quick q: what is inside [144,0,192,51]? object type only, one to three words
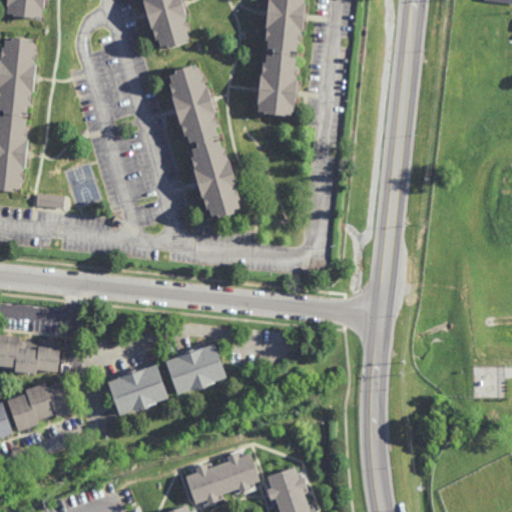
building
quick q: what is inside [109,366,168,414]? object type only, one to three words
house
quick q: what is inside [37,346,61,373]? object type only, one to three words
house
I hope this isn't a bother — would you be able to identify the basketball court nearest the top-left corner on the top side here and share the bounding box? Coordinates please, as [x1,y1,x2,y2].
[66,164,102,206]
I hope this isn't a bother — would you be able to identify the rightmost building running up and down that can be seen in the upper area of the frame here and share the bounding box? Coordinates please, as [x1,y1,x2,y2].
[257,0,306,117]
